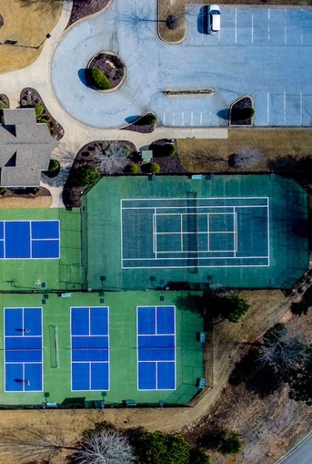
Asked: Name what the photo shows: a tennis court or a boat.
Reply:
tennis court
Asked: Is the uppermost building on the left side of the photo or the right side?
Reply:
left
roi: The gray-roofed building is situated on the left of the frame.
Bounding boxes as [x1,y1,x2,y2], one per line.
[0,108,60,189]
